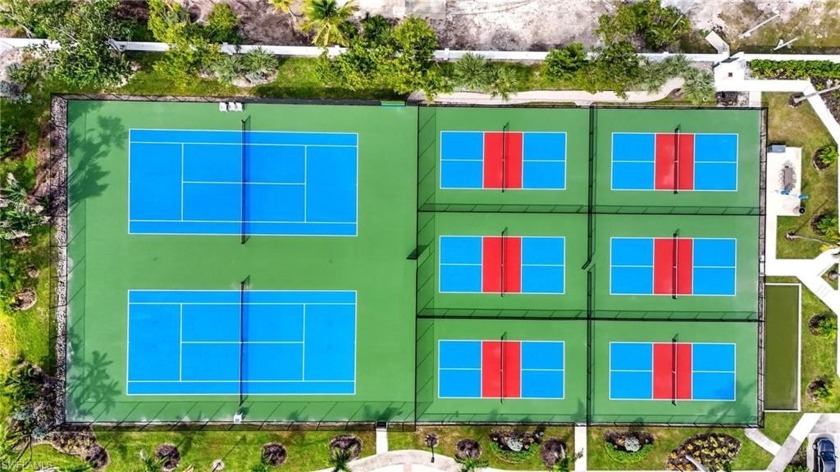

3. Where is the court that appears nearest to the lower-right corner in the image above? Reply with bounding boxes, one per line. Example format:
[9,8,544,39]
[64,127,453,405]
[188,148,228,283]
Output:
[609,342,736,401]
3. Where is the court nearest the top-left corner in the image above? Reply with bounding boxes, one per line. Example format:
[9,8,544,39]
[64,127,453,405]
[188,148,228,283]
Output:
[129,129,358,236]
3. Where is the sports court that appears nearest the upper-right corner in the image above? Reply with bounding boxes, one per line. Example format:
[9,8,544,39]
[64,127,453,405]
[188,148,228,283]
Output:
[611,132,738,190]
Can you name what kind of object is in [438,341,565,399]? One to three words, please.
sports court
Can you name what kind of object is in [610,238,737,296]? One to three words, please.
sports court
